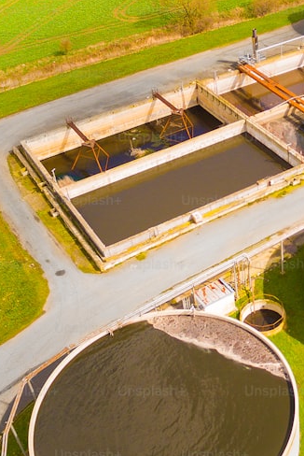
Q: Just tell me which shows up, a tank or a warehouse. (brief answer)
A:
tank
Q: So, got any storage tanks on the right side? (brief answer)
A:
Yes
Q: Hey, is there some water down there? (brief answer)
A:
Yes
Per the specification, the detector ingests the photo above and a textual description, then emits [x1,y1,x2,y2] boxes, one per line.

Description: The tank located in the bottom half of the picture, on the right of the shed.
[239,280,290,339]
